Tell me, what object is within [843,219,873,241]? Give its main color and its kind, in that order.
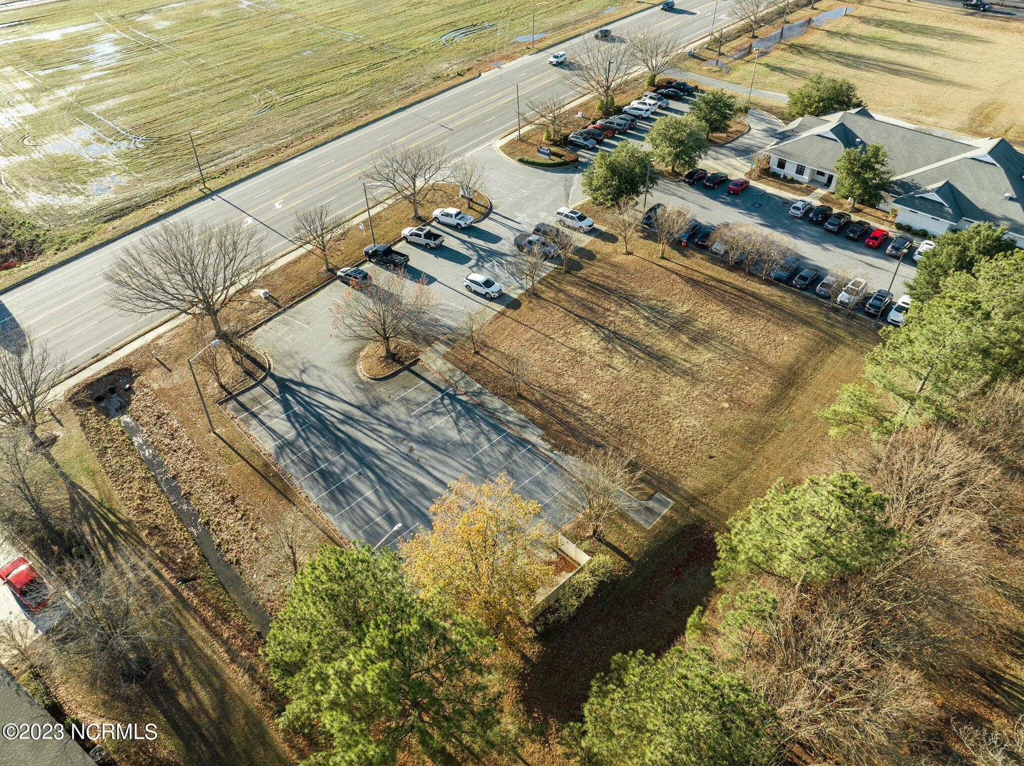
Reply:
black car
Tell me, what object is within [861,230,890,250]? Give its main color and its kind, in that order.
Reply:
red car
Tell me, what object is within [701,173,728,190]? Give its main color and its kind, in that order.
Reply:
black car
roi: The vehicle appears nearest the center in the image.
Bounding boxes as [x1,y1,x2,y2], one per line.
[463,273,504,298]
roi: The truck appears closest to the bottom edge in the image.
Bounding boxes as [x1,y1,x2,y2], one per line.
[0,557,60,617]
